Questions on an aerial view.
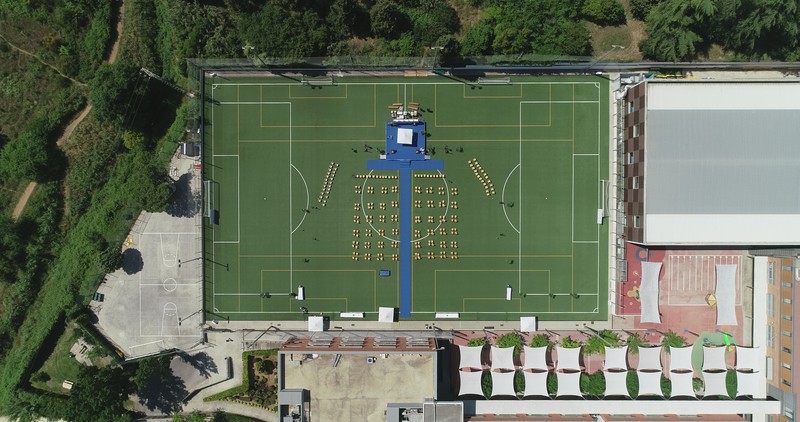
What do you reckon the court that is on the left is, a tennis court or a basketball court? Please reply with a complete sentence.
The court that is on the left can be classified as a basketball court.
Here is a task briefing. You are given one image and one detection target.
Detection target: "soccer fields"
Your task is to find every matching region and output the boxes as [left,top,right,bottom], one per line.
[205,77,609,321]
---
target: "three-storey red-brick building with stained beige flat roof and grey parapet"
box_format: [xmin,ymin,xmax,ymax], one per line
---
[280,337,438,422]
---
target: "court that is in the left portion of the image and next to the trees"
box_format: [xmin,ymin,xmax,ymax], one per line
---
[140,233,202,337]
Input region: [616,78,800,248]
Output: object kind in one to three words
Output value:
building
